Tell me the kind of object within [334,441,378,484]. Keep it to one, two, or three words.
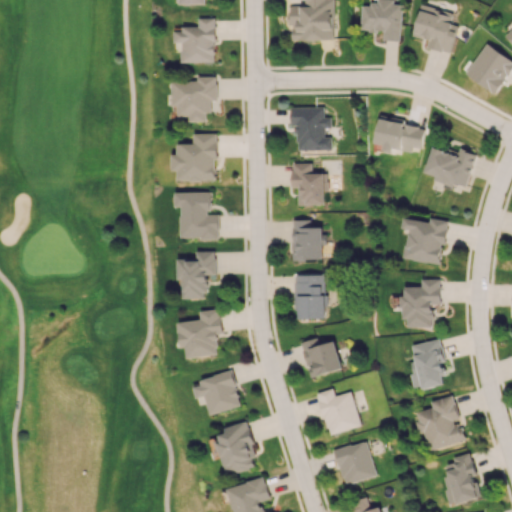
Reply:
house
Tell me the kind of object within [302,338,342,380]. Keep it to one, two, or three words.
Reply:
house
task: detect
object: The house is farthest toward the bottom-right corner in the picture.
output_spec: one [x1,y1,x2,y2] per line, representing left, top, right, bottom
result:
[446,453,482,507]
